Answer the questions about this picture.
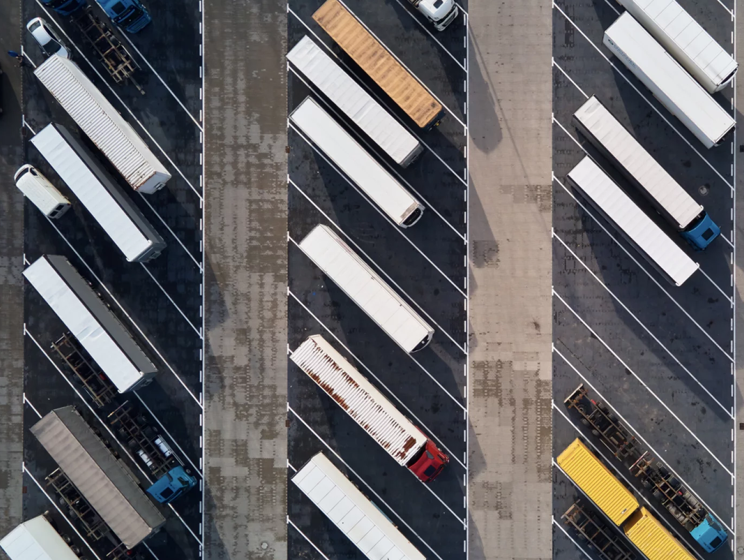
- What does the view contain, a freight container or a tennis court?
freight container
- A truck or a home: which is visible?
truck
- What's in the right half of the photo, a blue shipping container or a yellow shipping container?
yellow shipping container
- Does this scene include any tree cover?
No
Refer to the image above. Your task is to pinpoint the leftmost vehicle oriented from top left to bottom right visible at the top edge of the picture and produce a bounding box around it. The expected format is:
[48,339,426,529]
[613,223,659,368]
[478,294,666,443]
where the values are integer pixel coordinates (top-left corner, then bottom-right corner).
[27,17,72,61]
